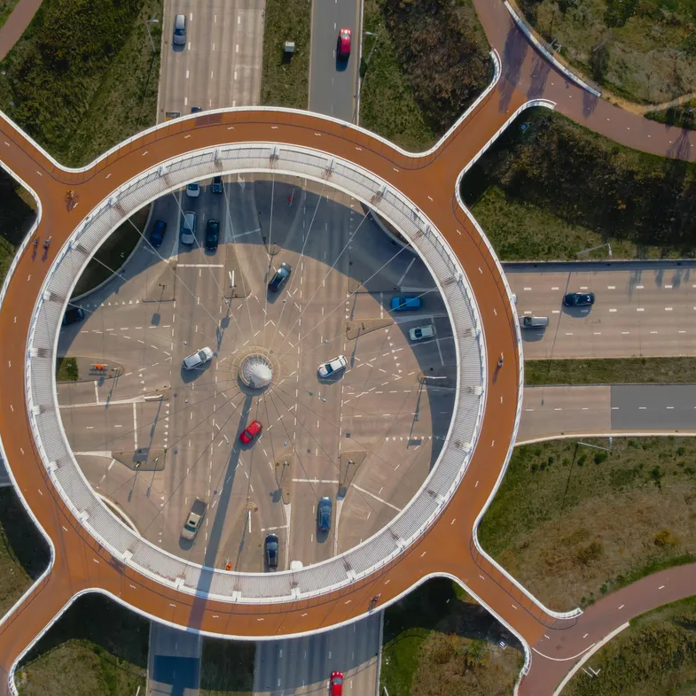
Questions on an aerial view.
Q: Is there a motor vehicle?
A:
Yes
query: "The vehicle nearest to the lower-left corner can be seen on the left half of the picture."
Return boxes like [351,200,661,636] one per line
[182,497,207,542]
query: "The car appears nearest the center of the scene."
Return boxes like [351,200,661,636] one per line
[317,355,348,378]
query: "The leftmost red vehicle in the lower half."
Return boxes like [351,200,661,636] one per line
[237,419,264,446]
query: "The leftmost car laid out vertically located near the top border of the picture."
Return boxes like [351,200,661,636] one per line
[172,13,187,47]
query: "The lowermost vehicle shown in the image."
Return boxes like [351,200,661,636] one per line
[329,669,344,696]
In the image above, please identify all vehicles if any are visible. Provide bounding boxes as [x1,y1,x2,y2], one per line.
[237,419,264,446]
[209,178,225,196]
[337,29,351,58]
[182,497,207,542]
[205,218,219,250]
[150,217,167,246]
[562,291,595,307]
[317,355,348,378]
[289,560,301,570]
[390,296,421,310]
[181,211,196,245]
[266,263,290,295]
[329,669,344,696]
[65,308,86,324]
[521,315,547,329]
[185,184,201,199]
[318,497,334,532]
[264,533,279,566]
[409,326,436,340]
[172,13,187,47]
[182,346,215,370]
